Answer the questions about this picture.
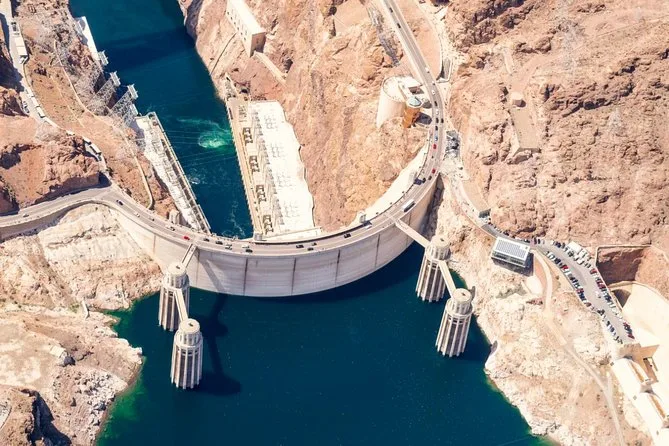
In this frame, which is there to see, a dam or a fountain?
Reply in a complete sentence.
It is a dam that can be seen here.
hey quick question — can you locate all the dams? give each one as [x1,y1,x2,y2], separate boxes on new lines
[105,140,447,298]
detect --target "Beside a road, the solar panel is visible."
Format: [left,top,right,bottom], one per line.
[494,238,528,258]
